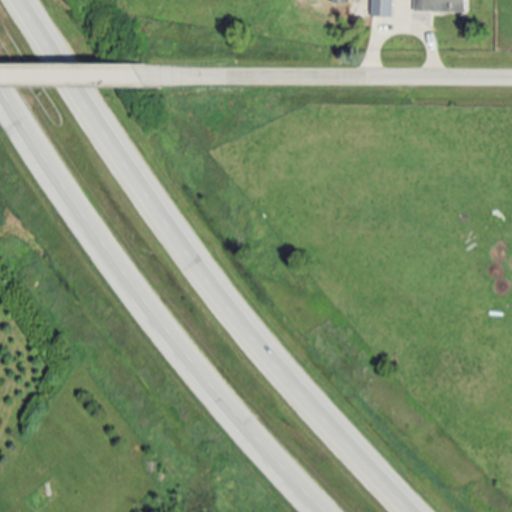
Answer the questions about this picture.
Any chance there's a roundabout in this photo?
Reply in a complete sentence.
No, the photo shows no roundabout.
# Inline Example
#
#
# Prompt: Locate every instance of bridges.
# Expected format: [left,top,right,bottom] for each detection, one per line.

[0,62,152,90]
